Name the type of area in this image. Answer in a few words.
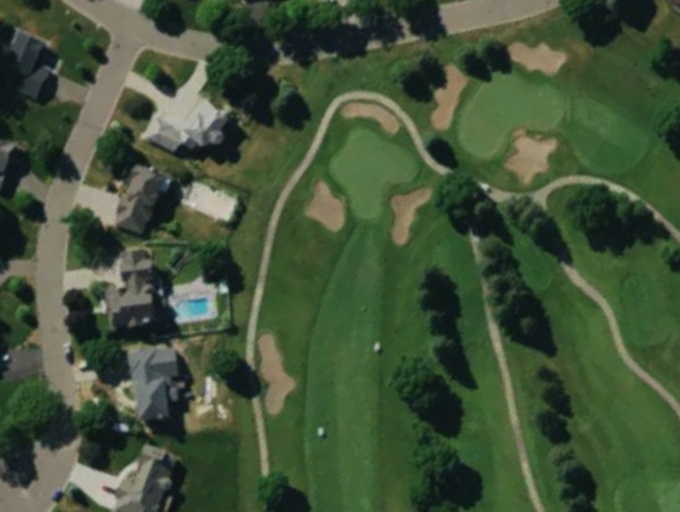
golf course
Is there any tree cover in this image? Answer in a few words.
Yes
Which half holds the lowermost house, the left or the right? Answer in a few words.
left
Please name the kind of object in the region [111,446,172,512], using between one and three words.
house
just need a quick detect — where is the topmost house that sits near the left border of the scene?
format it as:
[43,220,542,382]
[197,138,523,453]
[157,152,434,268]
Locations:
[10,27,59,102]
